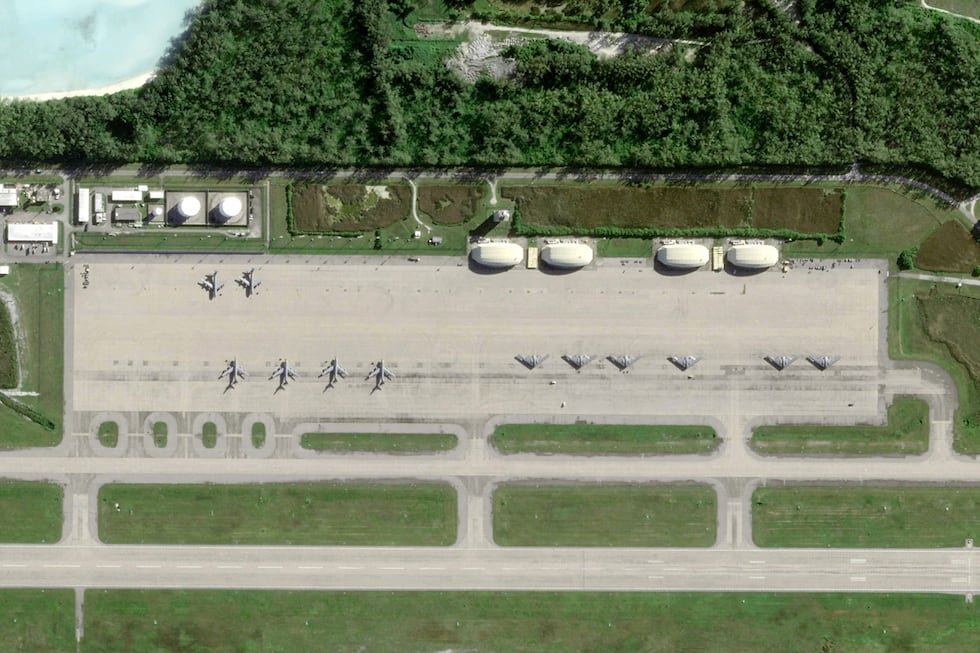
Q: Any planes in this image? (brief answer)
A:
Yes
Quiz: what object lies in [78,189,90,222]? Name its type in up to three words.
building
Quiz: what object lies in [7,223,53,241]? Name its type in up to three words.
building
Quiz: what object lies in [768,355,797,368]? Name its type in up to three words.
airplane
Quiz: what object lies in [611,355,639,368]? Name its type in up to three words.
airplane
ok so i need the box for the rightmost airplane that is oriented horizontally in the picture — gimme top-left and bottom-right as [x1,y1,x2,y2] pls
[812,354,839,368]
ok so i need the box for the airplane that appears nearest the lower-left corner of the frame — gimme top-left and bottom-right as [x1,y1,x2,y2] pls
[221,355,250,384]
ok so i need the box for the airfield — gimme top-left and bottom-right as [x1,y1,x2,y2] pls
[0,236,980,653]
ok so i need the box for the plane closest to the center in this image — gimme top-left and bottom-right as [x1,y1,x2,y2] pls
[520,354,548,368]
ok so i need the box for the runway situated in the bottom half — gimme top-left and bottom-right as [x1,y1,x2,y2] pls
[0,546,980,593]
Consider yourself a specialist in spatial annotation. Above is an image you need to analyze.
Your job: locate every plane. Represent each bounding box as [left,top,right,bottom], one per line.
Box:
[520,354,548,368]
[322,356,350,384]
[201,270,230,298]
[368,358,396,386]
[221,355,250,384]
[768,355,797,368]
[567,355,595,368]
[238,267,267,296]
[272,357,301,385]
[673,355,701,368]
[812,354,839,368]
[611,355,639,368]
